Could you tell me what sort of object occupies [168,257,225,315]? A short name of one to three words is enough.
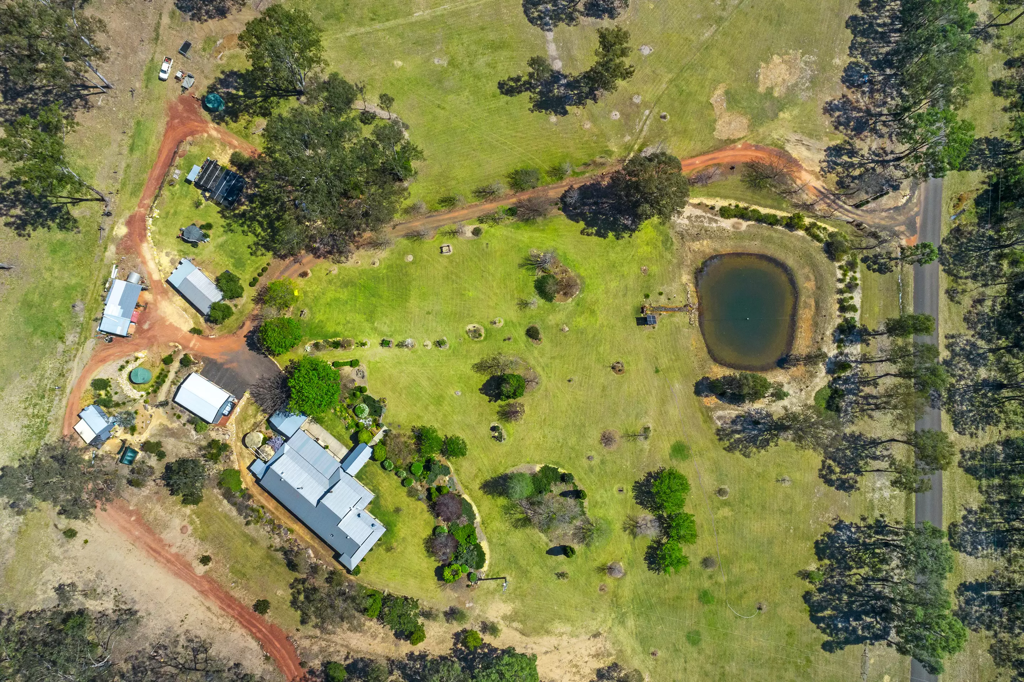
shed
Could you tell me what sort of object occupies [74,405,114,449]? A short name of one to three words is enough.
house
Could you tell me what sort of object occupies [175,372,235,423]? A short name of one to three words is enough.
building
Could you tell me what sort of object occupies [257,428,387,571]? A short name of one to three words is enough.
house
